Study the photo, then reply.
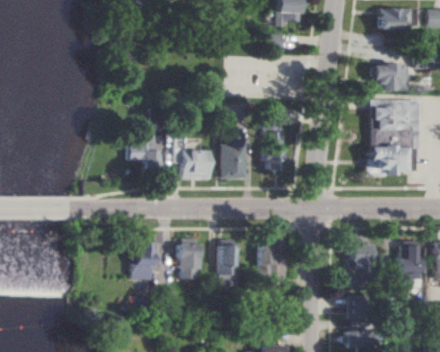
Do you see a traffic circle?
No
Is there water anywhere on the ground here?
Yes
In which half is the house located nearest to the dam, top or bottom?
bottom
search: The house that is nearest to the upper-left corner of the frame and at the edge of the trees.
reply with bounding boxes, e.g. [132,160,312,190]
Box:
[127,139,164,166]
